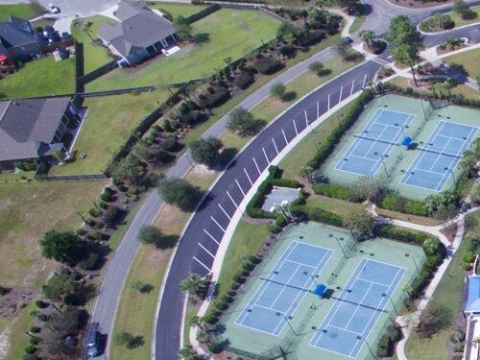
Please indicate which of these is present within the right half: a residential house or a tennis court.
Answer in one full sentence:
Visible within the right half is a tennis court.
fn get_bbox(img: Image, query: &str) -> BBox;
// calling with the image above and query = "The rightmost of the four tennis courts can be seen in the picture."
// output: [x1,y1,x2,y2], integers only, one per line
[384,106,480,199]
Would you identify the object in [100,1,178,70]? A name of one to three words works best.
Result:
house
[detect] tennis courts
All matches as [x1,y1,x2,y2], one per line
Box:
[384,106,480,199]
[314,92,434,192]
[287,238,426,360]
[222,220,358,358]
